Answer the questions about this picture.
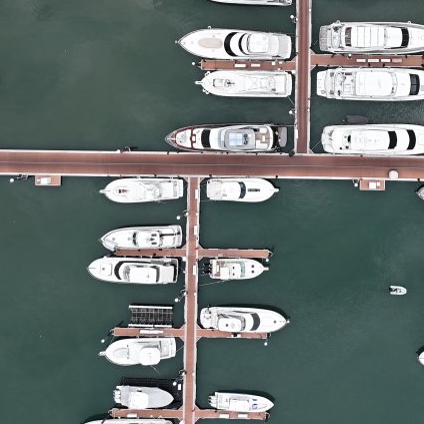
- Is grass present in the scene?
No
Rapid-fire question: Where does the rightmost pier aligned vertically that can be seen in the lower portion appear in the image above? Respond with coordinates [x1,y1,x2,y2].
[182,178,200,424]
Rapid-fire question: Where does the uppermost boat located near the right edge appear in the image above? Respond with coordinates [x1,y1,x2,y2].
[319,23,424,57]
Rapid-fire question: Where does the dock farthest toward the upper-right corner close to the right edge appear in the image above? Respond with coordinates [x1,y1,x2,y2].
[311,47,424,76]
